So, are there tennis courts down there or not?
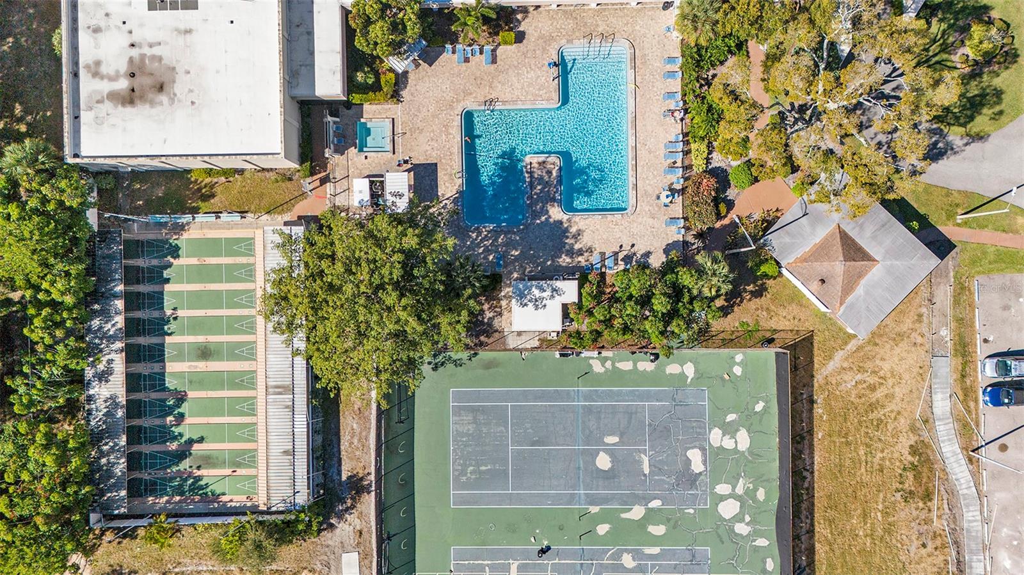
Yes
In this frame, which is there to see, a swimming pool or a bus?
swimming pool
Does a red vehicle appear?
No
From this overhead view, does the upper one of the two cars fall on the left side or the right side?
right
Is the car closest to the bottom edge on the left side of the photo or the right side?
right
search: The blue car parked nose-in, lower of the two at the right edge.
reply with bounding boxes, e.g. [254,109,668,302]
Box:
[985,386,1024,410]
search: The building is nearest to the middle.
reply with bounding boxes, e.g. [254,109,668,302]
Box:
[511,279,579,331]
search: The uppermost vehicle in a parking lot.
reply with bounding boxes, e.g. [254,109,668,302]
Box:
[985,357,1024,381]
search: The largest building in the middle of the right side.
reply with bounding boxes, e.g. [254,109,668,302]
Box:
[761,166,941,339]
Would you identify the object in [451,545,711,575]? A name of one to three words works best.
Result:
tennis court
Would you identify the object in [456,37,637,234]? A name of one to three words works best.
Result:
swimming pool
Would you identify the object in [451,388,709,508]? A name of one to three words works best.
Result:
tennis court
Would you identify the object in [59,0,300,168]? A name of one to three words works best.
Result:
building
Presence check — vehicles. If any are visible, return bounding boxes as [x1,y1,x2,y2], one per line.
[985,357,1024,381]
[985,386,1024,410]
